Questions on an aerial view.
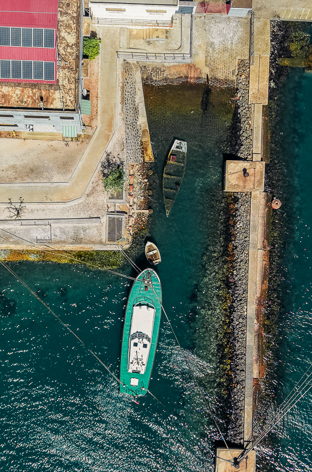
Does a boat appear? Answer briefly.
Yes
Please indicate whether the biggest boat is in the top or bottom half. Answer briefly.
bottom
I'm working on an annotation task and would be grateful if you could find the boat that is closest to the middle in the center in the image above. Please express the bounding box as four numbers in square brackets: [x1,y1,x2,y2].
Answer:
[144,241,160,265]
